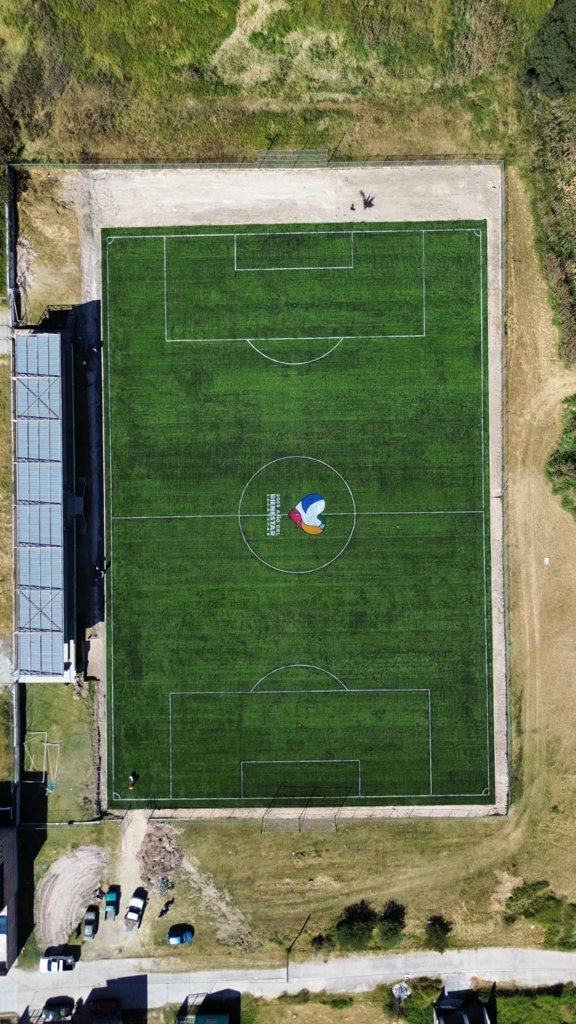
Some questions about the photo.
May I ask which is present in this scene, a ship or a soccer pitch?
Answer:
soccer pitch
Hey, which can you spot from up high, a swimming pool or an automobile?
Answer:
automobile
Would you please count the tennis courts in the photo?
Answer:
0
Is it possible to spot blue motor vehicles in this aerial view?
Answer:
Yes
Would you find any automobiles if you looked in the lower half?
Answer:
Yes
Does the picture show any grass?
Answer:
Yes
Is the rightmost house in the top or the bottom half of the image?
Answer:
bottom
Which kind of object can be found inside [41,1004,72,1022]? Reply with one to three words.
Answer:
car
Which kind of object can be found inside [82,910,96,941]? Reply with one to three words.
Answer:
car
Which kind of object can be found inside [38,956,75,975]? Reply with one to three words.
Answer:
vehicle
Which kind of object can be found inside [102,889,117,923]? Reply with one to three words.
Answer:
vehicle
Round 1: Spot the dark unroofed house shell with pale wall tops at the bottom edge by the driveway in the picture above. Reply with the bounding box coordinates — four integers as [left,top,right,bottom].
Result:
[434,994,492,1024]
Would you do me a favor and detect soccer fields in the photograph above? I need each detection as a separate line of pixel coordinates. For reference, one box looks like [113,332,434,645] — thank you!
[100,220,496,809]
